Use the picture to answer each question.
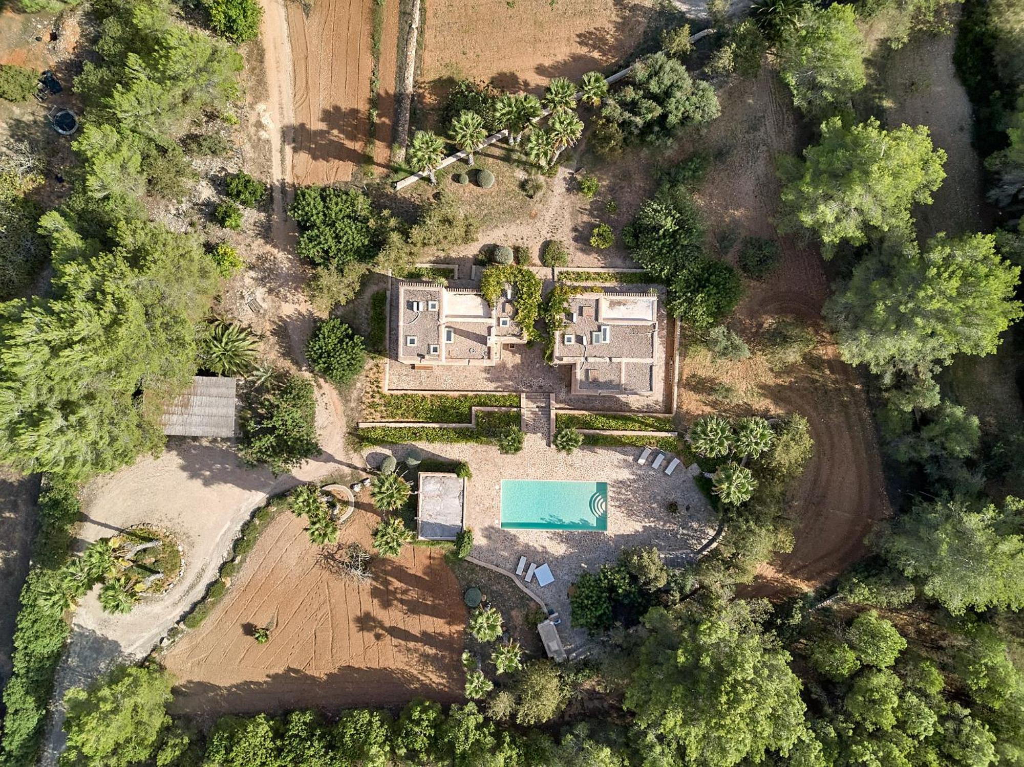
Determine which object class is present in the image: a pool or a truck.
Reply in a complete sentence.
The one in the frame is a pool.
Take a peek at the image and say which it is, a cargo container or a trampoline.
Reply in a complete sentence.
Visible in the photo is a trampoline.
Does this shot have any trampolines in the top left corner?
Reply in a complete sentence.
Yes, in the top left corner there is a trampoline.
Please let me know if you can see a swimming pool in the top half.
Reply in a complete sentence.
No, no swimming pool appears in the top half.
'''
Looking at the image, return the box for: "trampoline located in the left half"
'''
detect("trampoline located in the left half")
[49,107,83,136]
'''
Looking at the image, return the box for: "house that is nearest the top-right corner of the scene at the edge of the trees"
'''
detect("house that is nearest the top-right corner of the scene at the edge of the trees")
[552,291,661,398]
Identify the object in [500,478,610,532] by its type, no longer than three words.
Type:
swimming pool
